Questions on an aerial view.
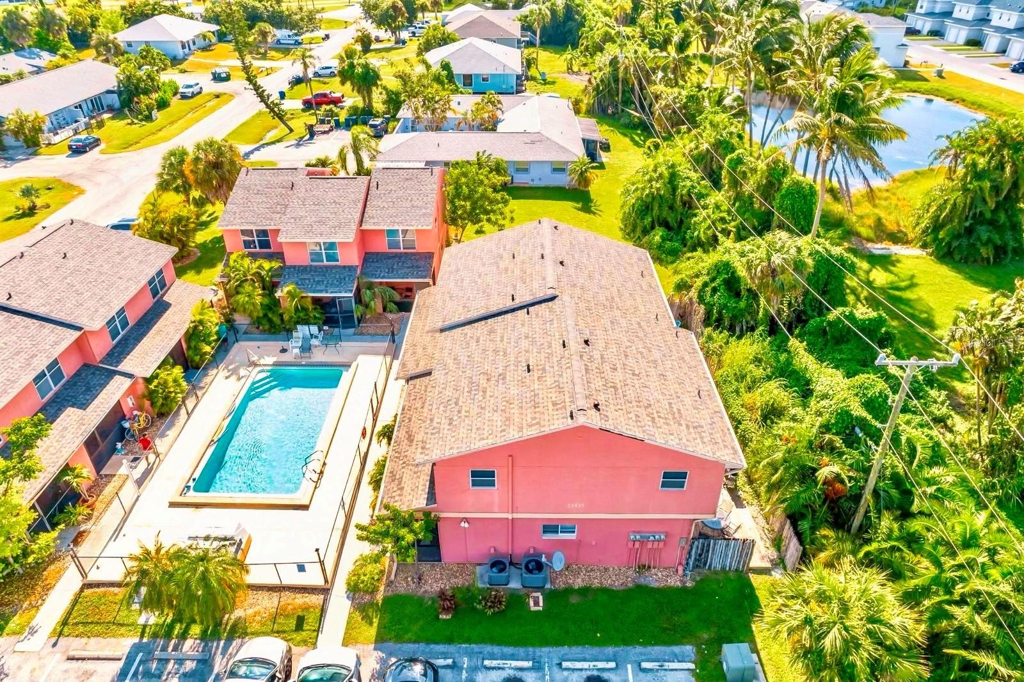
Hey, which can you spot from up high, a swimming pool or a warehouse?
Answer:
swimming pool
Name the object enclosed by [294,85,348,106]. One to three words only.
truck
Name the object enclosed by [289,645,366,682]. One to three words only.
car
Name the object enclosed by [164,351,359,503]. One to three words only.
swimming pool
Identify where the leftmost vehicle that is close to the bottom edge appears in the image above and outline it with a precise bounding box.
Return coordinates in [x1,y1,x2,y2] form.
[206,639,291,682]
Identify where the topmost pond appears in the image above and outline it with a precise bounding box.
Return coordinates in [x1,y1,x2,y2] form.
[747,92,986,194]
